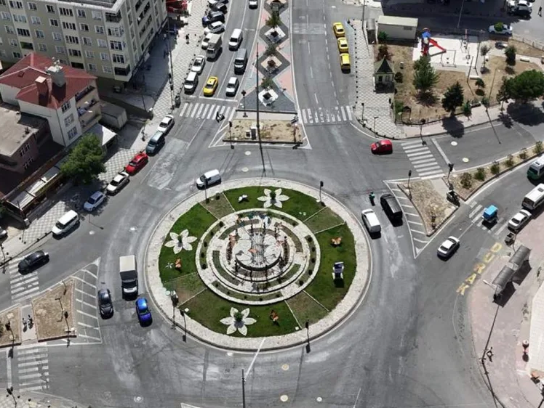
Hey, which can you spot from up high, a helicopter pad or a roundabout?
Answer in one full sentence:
Looking from above, you can make out a roundabout.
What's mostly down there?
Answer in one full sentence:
The scene is dominated by paved ground.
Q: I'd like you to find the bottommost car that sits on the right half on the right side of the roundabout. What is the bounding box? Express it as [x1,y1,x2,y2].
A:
[435,236,460,261]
